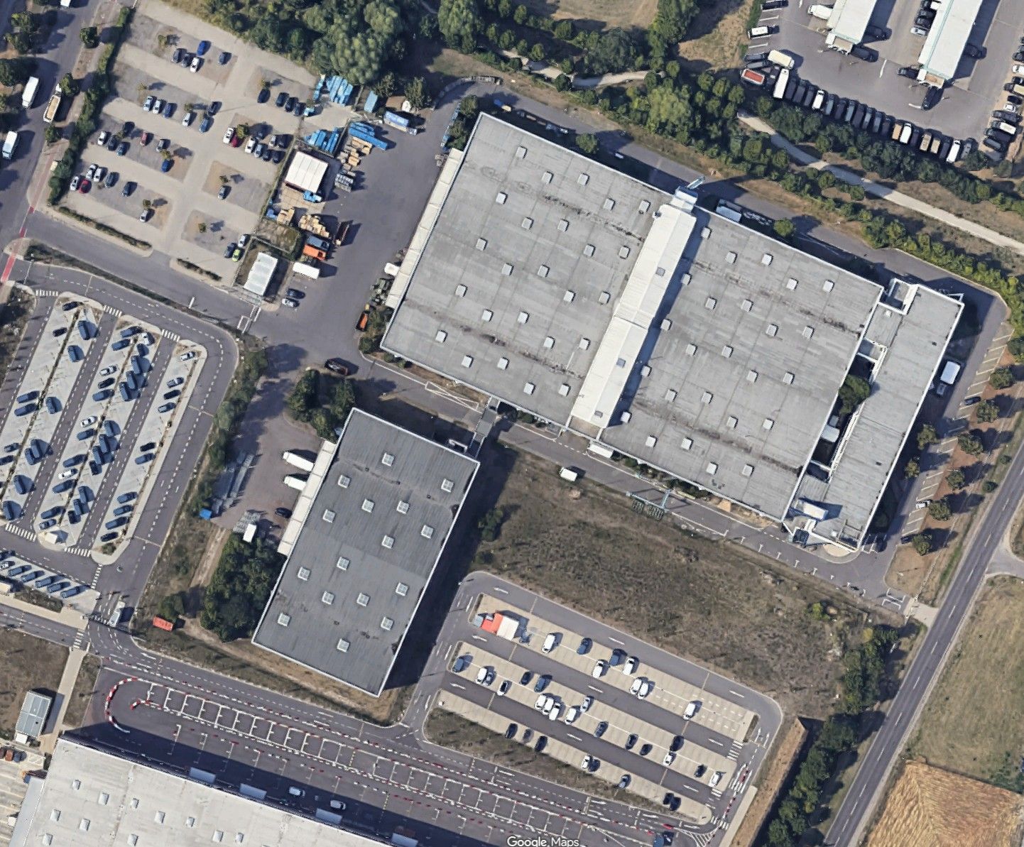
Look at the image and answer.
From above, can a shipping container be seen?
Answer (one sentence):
Yes, there is a shipping container in the image.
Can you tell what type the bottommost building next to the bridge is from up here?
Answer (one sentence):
Specifically, the bottommost building next to the bridge is a warehouse.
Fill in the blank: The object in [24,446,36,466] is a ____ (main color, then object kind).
blue vehicle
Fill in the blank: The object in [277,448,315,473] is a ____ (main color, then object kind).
white truck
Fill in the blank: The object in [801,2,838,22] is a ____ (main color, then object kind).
white bus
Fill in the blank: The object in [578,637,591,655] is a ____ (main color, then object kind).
blue vehicle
